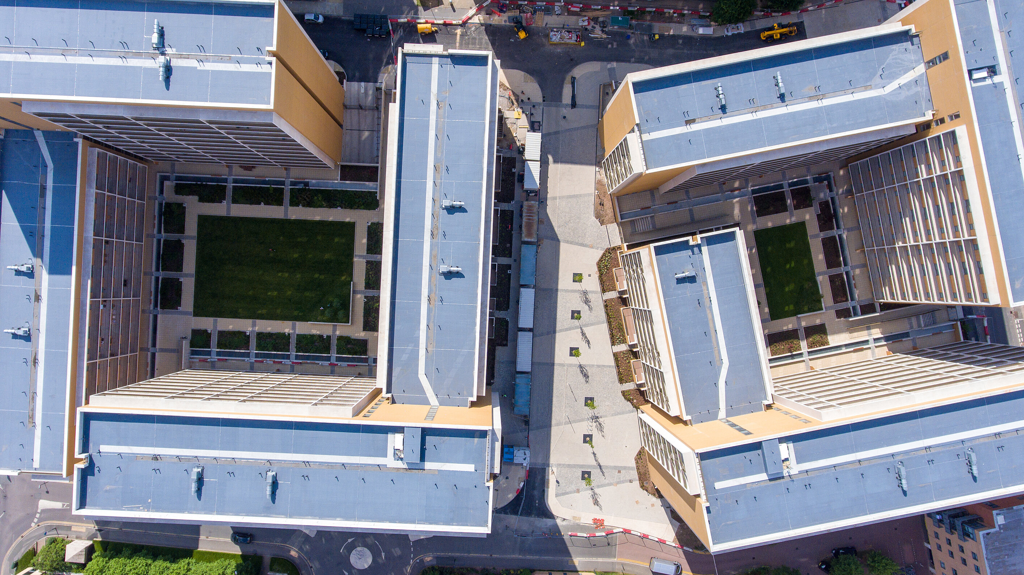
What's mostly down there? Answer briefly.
buildings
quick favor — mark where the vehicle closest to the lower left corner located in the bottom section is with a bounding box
[232,531,254,544]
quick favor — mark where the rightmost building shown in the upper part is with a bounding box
[845,0,1024,308]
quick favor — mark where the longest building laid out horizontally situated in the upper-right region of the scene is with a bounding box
[595,21,934,200]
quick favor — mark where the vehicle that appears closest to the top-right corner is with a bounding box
[760,21,794,44]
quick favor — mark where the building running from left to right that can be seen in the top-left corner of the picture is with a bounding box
[0,0,350,169]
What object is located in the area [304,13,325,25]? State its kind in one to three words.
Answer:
vehicle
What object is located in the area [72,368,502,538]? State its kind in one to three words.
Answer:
building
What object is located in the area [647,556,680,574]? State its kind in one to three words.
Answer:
vehicle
